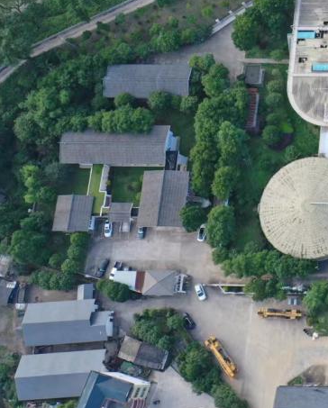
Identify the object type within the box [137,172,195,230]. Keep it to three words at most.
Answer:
house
